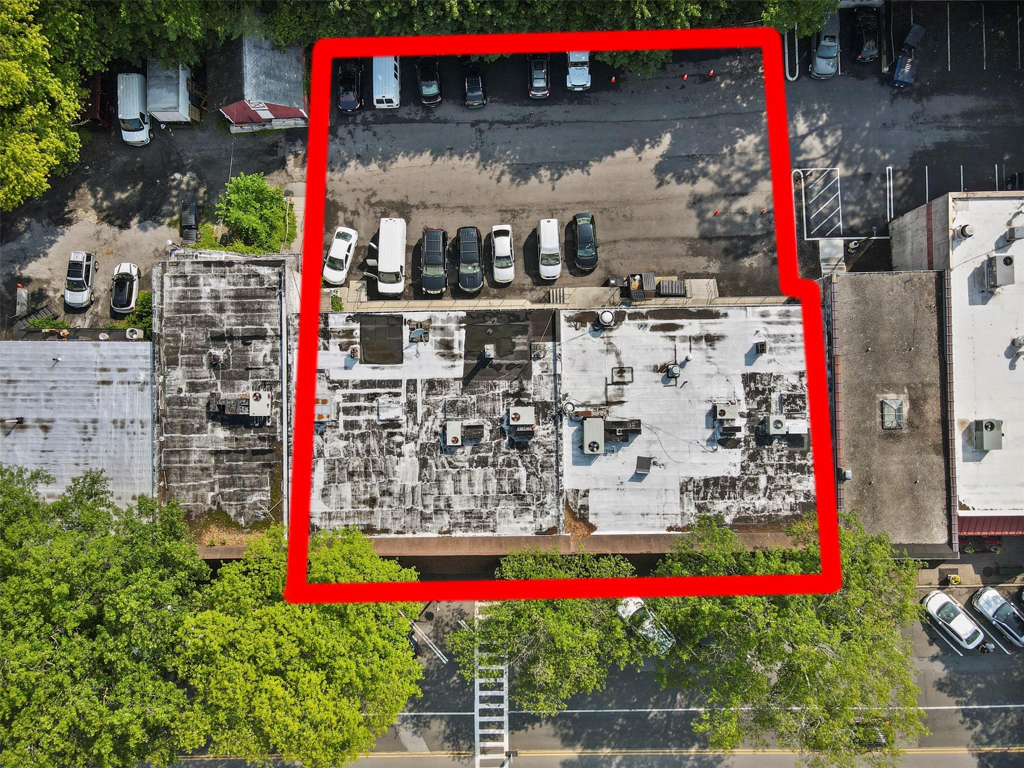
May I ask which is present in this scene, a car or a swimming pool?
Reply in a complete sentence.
Looking from above, you can make out a car.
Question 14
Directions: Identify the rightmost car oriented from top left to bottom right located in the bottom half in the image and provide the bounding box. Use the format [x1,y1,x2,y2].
[971,589,1024,656]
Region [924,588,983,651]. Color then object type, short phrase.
white car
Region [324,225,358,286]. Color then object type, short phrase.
white car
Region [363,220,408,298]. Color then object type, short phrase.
white van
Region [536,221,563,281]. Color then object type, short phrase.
white vehicle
